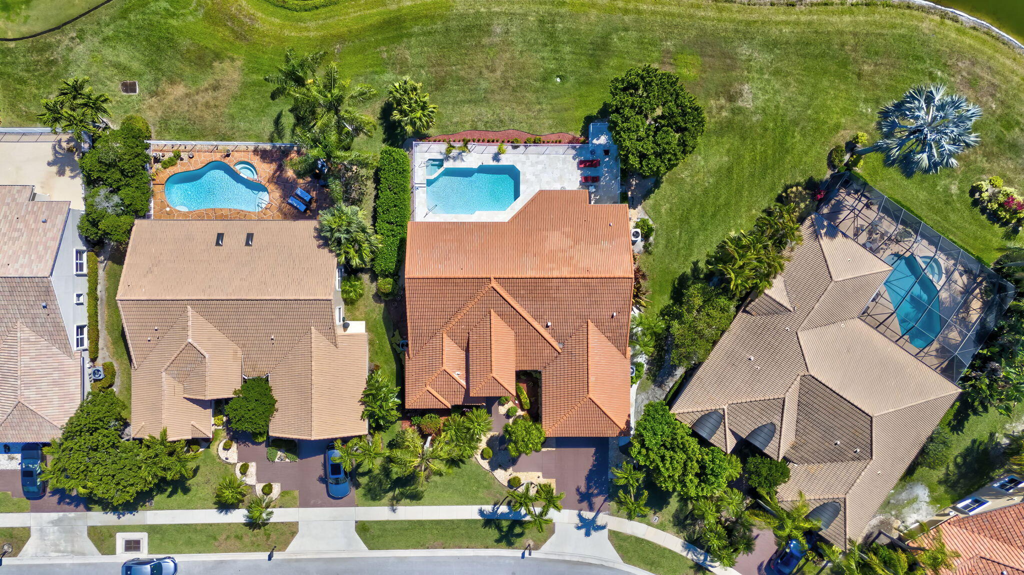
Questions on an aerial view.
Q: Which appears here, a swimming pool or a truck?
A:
swimming pool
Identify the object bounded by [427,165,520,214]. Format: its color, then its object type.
blue swimming pool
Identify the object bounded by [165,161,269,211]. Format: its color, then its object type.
blue swimming pool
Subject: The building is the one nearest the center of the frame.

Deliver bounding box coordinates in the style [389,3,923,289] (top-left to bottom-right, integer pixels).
[404,190,634,438]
